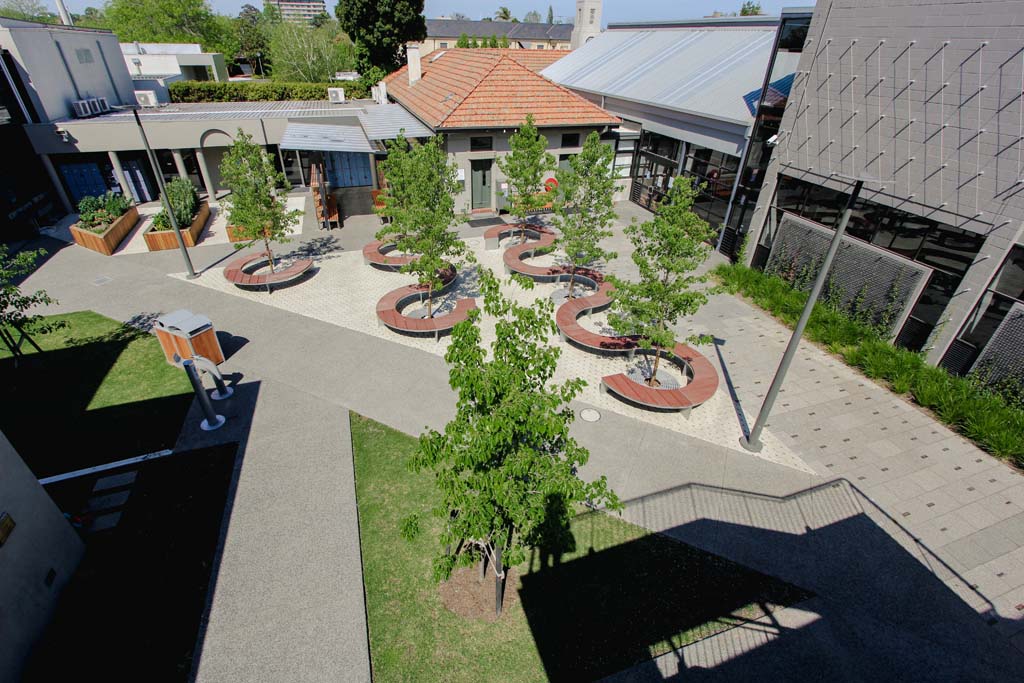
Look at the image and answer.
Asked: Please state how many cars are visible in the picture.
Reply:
zero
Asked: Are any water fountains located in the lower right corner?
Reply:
No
